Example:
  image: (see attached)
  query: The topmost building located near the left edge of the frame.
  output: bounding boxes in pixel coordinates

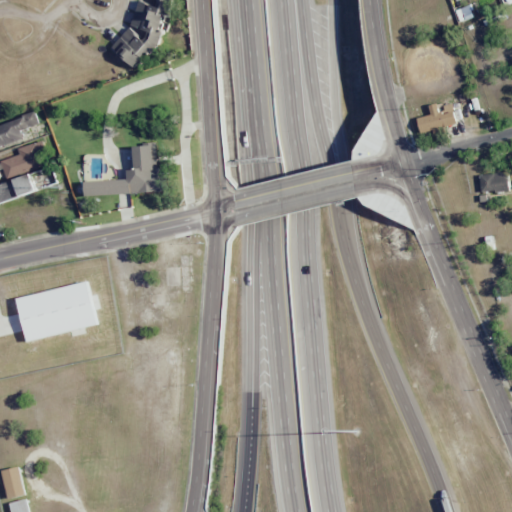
[0,112,40,146]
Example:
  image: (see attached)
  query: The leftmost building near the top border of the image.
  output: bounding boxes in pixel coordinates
[114,0,170,67]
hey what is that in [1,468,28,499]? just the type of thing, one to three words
house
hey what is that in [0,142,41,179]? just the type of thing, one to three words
house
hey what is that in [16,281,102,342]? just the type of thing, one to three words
building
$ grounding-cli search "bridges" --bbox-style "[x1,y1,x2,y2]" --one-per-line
[236,162,358,226]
